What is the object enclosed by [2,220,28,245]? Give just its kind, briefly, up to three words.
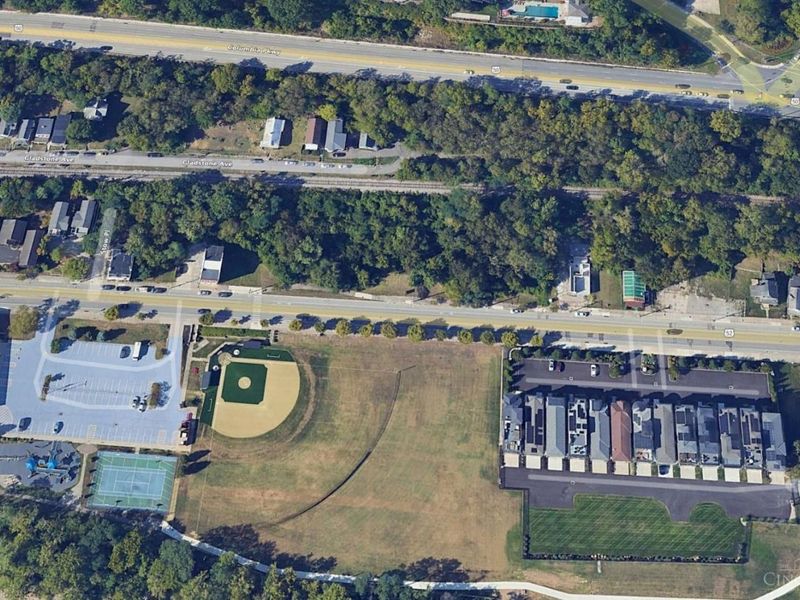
house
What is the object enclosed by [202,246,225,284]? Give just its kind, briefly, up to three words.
building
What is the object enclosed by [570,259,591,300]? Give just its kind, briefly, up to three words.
building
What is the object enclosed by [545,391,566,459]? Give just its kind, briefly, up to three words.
house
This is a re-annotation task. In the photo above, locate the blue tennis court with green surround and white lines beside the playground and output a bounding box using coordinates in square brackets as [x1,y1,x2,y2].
[88,451,177,512]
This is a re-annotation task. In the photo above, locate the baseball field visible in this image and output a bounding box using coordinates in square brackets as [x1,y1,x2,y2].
[168,336,502,583]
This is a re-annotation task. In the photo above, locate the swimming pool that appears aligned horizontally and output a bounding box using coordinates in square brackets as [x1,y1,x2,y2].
[500,0,590,27]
